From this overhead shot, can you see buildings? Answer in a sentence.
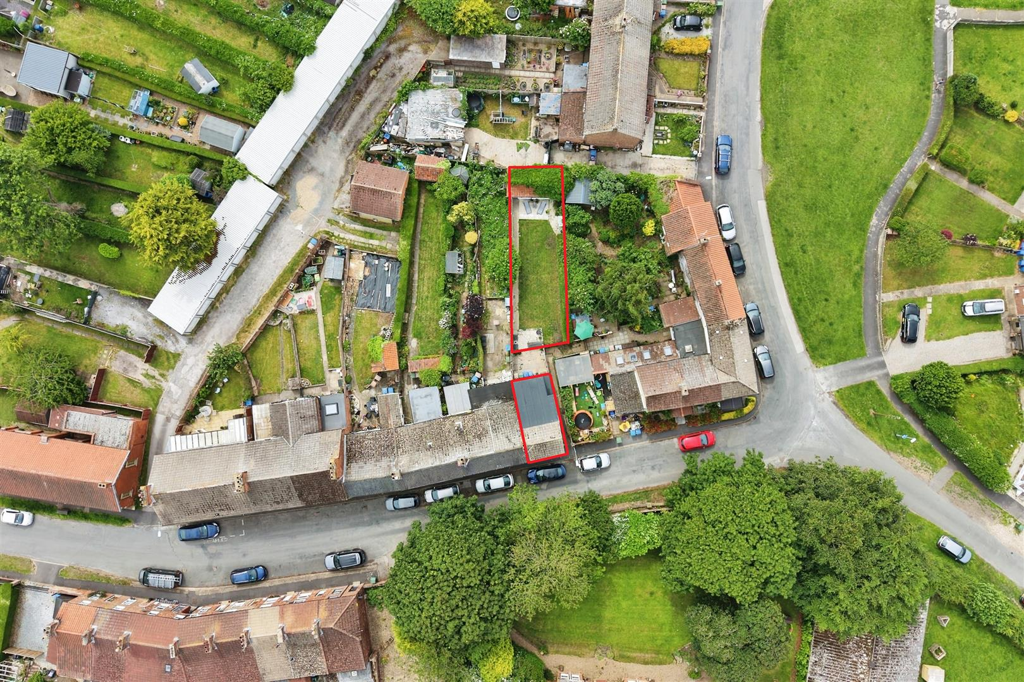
Yes, this view includes a building.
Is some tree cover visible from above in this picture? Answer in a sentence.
Yes, the picture does contain tree cover.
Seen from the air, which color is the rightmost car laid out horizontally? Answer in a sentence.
From above, the rightmost car laid out horizontally appears white.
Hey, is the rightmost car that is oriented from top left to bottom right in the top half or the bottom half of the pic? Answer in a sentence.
The rightmost car that is oriented from top left to bottom right sits in the bottom half of the picture.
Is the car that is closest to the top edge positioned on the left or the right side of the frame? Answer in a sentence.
The car that is closest to the top edge sits on the right side.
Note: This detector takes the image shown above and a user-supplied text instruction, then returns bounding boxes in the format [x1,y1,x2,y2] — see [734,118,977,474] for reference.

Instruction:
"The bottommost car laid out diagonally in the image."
[933,532,972,565]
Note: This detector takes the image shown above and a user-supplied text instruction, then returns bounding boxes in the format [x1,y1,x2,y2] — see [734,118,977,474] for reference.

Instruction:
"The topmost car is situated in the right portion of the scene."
[671,13,702,33]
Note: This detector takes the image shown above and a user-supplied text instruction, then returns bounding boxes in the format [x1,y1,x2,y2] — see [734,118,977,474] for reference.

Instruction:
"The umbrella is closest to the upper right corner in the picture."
[573,318,594,339]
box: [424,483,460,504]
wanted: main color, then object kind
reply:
white car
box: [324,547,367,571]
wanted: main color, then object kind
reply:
gray car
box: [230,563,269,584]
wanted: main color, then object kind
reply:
blue car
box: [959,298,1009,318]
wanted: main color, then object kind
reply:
white car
